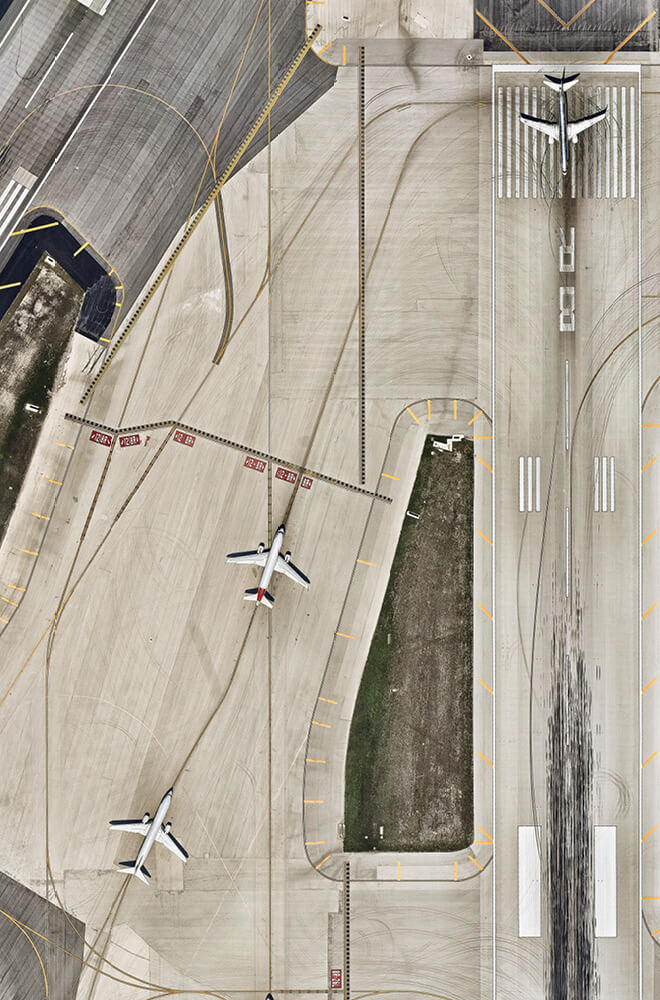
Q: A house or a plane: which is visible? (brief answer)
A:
plane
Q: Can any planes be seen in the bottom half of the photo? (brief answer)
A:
Yes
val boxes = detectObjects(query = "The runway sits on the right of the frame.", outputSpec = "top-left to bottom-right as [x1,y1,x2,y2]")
[492,65,660,1000]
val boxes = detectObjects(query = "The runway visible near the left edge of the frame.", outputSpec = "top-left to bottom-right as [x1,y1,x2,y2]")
[0,0,159,250]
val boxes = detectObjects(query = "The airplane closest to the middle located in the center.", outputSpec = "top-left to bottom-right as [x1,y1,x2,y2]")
[227,527,309,607]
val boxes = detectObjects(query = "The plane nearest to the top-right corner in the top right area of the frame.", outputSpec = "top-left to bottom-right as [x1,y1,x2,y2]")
[519,76,608,174]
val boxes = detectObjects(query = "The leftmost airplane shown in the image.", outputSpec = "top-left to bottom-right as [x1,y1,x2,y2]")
[108,790,187,886]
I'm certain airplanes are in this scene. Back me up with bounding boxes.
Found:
[227,527,309,607]
[108,790,187,886]
[519,76,608,174]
